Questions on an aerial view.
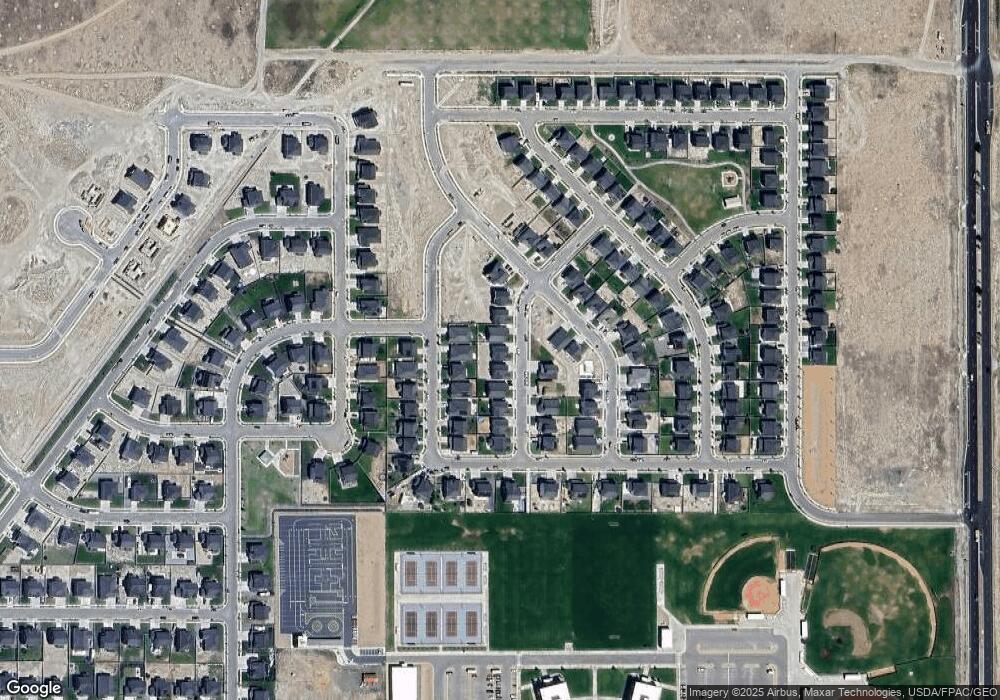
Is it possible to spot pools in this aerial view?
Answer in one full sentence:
No, the photo shows no pool.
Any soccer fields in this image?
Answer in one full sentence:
Yes, a soccer field appears in the view.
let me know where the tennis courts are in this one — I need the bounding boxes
[421,603,441,643]
[442,603,462,643]
[400,554,421,594]
[400,603,421,643]
[462,554,481,594]
[421,554,441,594]
[441,554,462,594]
[462,603,481,643]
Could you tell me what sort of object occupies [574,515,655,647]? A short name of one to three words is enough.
soccer field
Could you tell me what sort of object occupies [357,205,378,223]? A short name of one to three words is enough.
house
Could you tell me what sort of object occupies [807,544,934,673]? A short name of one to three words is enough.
baseball field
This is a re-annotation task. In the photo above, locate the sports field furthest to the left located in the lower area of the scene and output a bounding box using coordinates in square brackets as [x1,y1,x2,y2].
[489,515,573,647]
